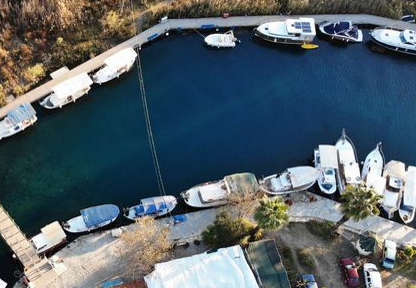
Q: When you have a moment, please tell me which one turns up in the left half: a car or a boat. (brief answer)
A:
boat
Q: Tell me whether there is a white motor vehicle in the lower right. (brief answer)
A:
Yes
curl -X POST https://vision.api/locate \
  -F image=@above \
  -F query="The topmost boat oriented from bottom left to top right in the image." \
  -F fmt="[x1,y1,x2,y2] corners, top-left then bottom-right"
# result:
[93,43,139,82]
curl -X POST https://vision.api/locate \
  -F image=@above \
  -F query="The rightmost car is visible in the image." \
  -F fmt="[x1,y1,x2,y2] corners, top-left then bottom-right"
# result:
[378,239,400,272]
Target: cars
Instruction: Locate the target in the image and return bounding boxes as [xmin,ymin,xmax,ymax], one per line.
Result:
[378,239,400,272]
[359,263,386,288]
[337,258,362,288]
[299,275,320,288]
